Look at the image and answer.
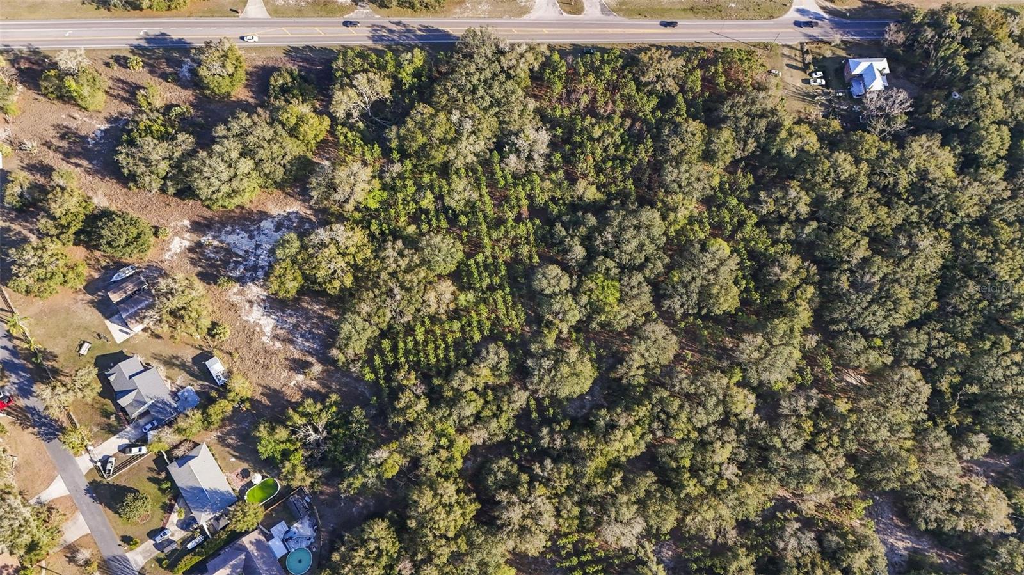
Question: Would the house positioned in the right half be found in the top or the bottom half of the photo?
top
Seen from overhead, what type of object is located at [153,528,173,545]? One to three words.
car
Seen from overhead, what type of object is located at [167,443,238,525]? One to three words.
house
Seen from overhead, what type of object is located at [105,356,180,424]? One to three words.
house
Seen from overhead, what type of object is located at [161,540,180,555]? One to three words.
car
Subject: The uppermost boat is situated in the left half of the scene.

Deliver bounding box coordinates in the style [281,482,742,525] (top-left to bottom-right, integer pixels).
[110,265,136,280]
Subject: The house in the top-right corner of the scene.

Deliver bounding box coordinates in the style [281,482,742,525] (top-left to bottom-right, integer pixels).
[846,58,890,95]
